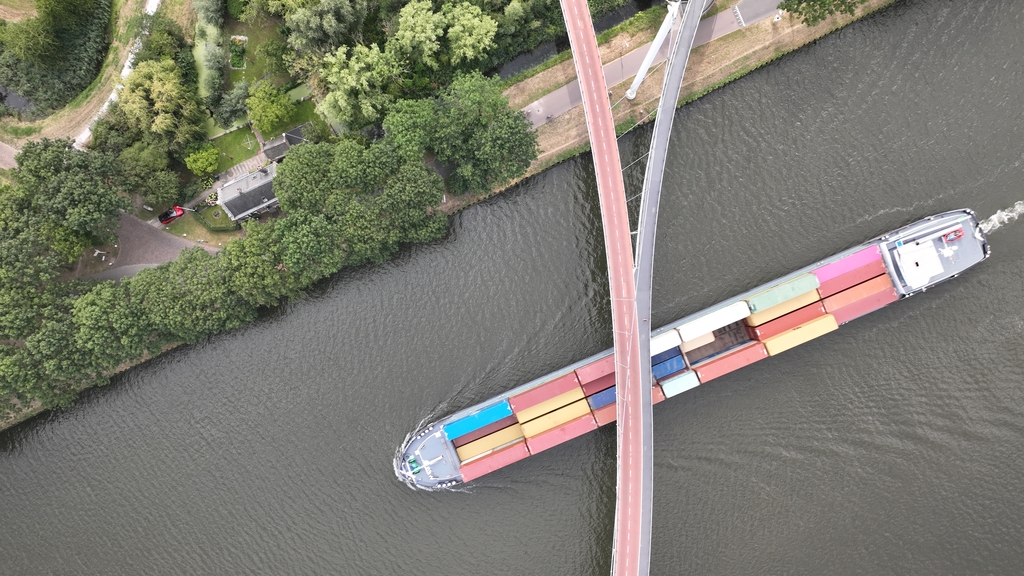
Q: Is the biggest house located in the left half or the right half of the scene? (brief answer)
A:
left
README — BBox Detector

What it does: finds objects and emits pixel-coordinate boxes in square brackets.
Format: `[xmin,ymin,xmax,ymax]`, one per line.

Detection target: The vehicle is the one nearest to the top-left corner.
[159,206,184,223]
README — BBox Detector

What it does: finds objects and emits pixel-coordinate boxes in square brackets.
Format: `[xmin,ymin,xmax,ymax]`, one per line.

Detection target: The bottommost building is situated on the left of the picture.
[213,159,287,222]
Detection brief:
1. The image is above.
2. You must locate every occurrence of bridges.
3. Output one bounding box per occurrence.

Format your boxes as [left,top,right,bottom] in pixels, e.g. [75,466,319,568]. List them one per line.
[559,0,717,576]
